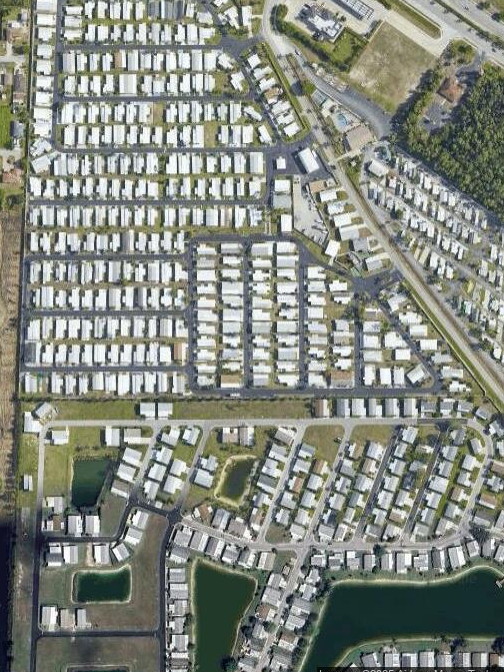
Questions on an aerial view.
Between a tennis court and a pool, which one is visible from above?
pool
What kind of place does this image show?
residential area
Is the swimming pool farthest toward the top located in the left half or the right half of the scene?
right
